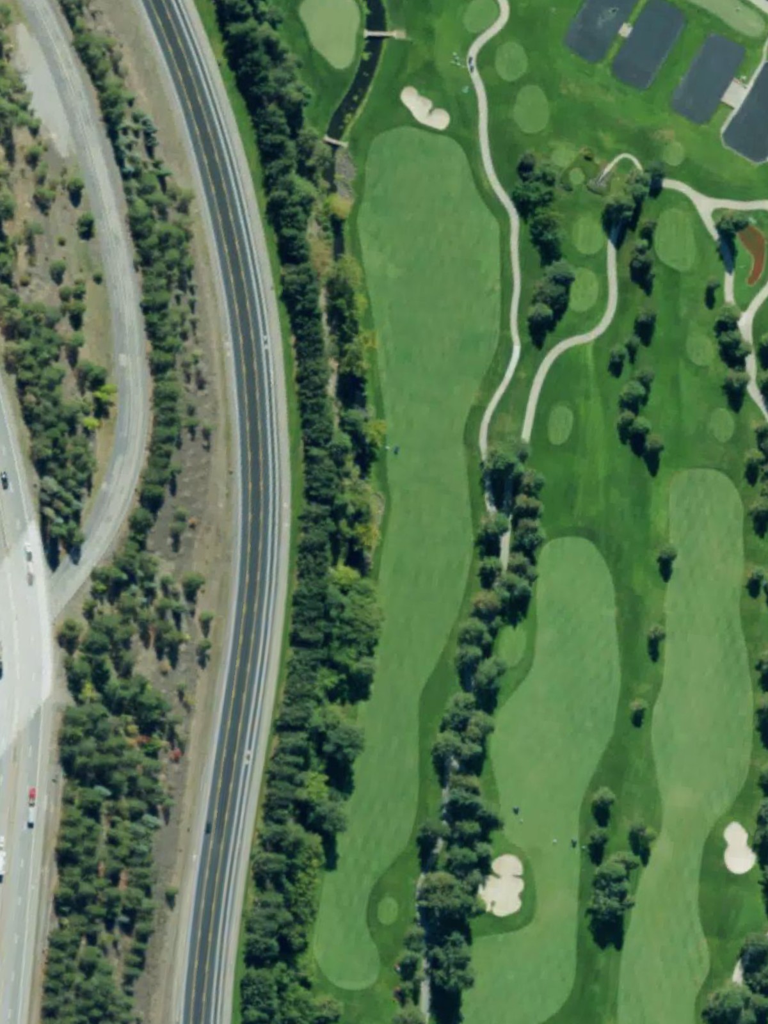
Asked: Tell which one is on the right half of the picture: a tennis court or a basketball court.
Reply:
tennis court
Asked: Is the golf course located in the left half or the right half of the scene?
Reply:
right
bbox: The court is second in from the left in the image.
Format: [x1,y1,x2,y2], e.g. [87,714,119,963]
[613,0,684,89]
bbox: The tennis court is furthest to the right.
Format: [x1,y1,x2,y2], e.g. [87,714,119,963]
[721,58,768,164]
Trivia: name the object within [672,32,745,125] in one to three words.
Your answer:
tennis court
